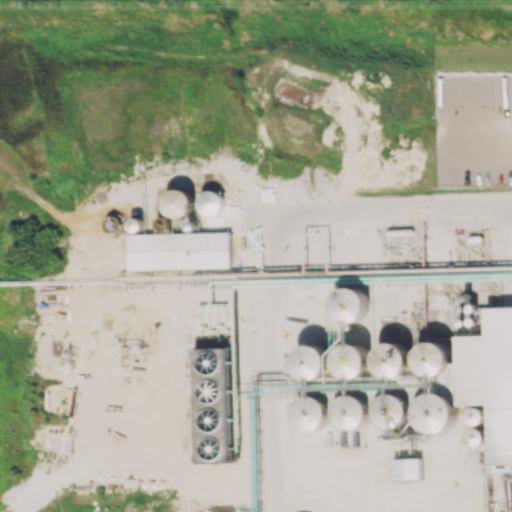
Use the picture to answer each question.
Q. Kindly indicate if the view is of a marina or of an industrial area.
industrial area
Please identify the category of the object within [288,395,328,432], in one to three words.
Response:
storage tank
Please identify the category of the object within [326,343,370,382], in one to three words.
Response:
storage tank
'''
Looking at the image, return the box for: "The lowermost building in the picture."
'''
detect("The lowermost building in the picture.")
[390,458,423,482]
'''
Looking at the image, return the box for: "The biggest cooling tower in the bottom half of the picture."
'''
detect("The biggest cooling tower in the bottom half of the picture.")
[190,349,235,464]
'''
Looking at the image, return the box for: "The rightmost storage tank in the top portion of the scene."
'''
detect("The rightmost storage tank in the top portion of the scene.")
[196,190,227,218]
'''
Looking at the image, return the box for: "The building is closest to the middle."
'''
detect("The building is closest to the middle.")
[126,234,232,272]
